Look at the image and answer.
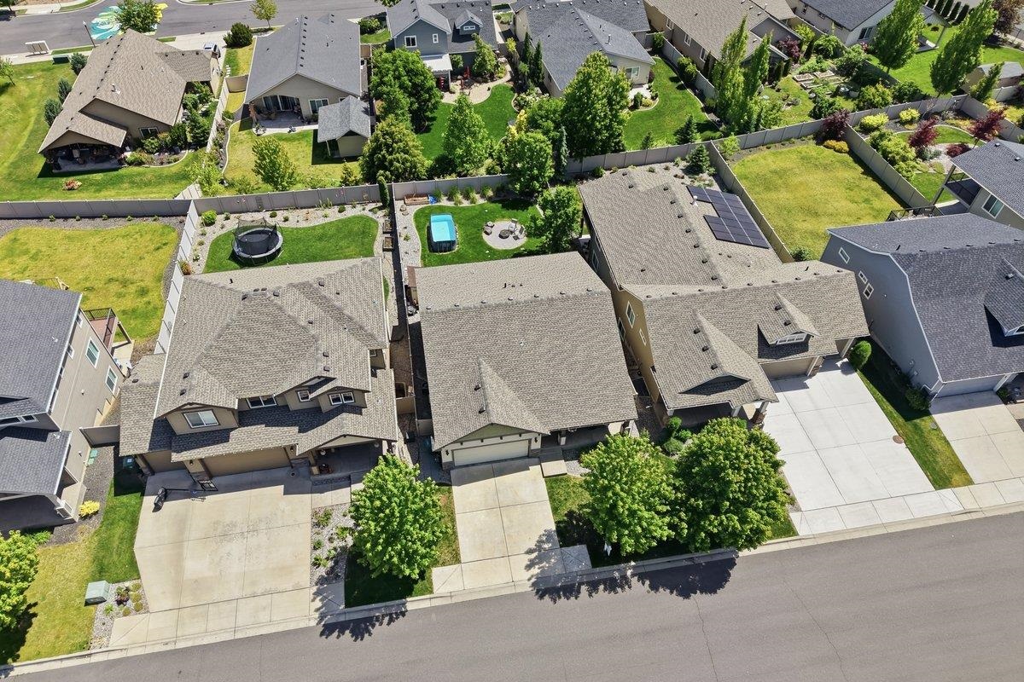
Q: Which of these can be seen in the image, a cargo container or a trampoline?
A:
trampoline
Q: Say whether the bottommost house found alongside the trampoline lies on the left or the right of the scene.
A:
left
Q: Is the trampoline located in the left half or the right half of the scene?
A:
left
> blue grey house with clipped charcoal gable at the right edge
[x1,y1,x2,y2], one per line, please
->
[825,204,1024,404]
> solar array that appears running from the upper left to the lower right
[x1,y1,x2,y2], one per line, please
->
[687,185,768,248]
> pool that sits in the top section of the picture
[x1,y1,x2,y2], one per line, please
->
[428,213,461,253]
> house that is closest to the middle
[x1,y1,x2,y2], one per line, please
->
[401,251,638,470]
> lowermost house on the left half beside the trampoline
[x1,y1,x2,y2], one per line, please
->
[120,255,401,484]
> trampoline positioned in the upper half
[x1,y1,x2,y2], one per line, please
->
[228,212,286,268]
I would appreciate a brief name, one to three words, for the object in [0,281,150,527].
house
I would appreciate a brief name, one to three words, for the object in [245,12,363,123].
house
